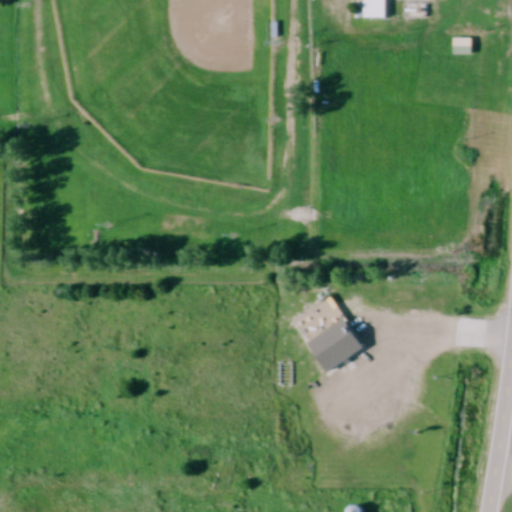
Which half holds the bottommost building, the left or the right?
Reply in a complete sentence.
You can find the bottommost building on the right side of the picture.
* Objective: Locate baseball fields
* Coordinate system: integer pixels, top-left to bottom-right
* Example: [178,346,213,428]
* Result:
[52,0,284,190]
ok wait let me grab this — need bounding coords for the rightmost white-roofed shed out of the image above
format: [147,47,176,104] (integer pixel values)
[453,36,473,54]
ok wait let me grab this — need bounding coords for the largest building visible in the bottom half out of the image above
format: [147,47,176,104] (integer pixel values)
[308,320,363,370]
